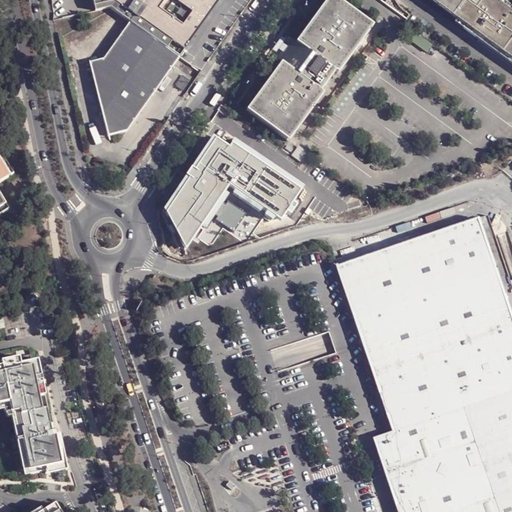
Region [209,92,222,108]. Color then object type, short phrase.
white vehicle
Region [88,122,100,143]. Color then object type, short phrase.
white vehicle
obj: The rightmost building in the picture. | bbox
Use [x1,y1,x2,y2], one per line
[428,0,512,64]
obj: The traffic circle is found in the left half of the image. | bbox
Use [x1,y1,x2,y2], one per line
[72,196,152,270]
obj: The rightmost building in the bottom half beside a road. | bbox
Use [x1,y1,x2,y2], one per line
[336,216,512,512]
